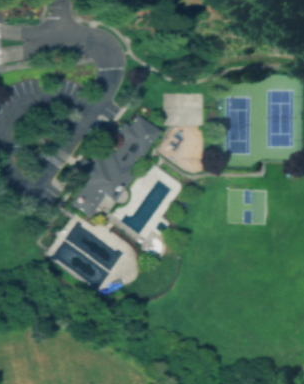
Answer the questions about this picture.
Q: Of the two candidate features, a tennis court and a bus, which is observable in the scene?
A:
tennis court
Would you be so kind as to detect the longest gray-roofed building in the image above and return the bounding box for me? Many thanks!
[67,116,167,219]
